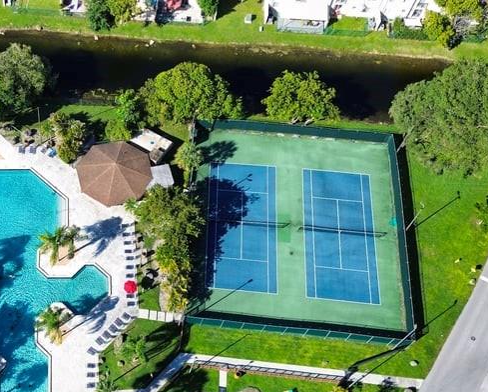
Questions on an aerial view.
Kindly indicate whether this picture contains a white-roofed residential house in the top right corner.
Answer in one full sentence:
Yes, I can see a white-roofed residential house in the top right corner.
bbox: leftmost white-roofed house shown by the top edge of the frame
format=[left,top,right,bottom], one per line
[270,0,329,32]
